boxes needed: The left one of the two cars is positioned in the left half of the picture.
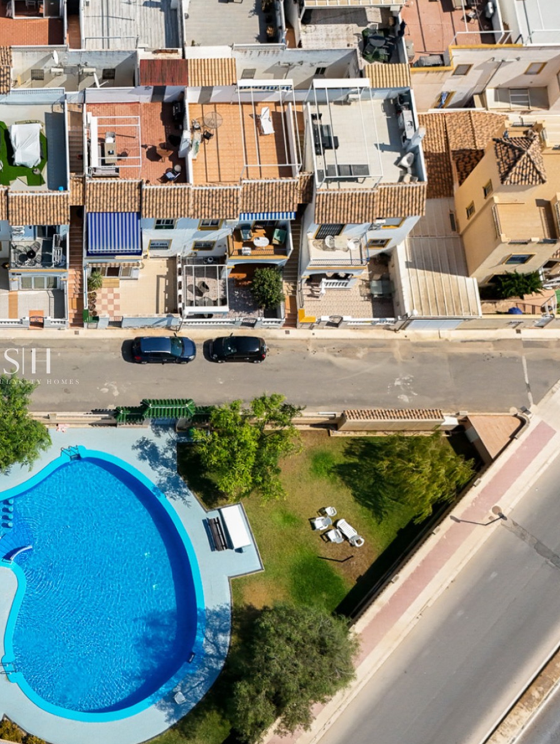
[131,334,197,367]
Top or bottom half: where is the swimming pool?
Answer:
bottom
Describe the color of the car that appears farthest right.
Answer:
black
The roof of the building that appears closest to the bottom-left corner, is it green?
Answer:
Yes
